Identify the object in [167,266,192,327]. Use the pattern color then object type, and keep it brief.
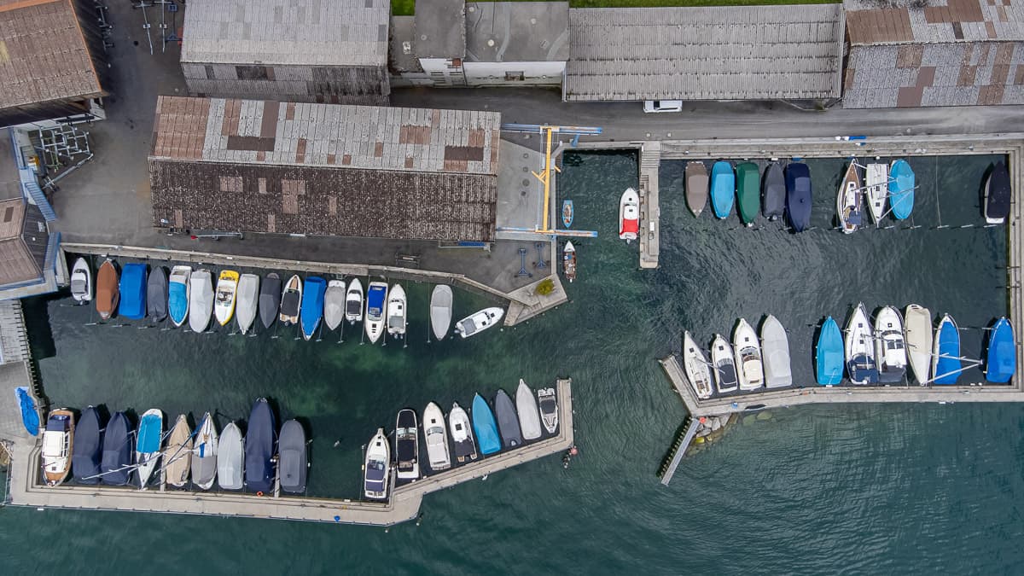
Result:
blue boat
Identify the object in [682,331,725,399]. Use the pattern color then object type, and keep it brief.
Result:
white boat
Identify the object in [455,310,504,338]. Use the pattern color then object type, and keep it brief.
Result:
white boat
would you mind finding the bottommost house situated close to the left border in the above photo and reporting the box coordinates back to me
[0,197,61,301]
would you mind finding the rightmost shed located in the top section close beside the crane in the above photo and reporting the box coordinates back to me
[564,4,846,103]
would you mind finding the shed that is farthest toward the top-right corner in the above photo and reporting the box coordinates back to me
[831,0,1024,109]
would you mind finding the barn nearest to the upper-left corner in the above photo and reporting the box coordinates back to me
[0,0,118,130]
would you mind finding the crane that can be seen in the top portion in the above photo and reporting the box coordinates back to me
[497,125,603,242]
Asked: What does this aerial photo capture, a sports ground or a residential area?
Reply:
residential area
